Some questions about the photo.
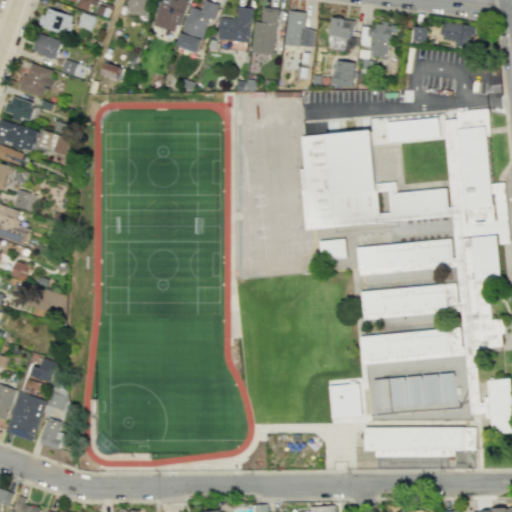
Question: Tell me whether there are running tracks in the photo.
Yes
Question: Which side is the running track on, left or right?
left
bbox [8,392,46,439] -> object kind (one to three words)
house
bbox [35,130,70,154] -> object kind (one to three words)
house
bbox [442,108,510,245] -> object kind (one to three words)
building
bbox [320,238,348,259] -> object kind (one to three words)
building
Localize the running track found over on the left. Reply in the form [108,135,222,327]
[85,102,254,466]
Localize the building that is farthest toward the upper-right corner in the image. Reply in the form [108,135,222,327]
[443,23,477,46]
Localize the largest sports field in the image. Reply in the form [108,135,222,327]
[90,109,247,460]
